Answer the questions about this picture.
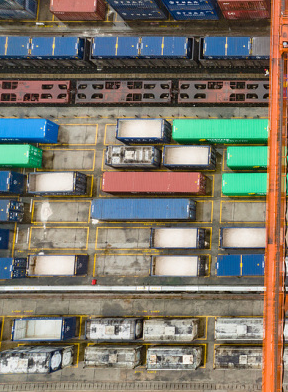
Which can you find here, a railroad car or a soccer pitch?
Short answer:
railroad car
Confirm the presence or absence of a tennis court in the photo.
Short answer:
No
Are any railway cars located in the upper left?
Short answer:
Yes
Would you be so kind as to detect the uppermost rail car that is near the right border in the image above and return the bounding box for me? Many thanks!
[199,36,287,67]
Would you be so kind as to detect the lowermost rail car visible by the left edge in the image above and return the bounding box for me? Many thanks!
[0,80,75,103]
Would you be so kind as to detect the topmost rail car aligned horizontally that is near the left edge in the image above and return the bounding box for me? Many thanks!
[0,35,93,67]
